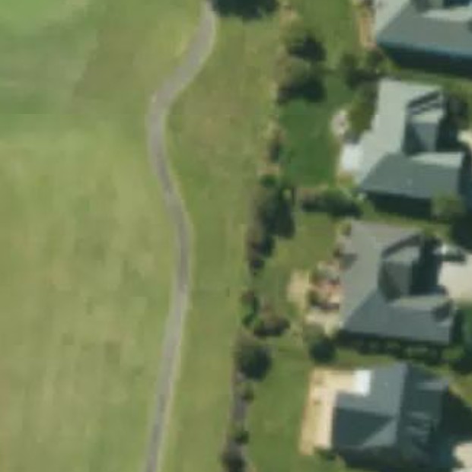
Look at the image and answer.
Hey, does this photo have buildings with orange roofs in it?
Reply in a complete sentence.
No, no building with an orange roof can be seen from above.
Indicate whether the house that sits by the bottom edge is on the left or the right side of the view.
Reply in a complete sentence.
You can find the house that sits by the bottom edge on the right side of the picture.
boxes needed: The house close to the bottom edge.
[325,361,443,466]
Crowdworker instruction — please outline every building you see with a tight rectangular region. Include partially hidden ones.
[325,361,443,466]
[353,82,468,208]
[375,0,472,63]
[336,222,454,351]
